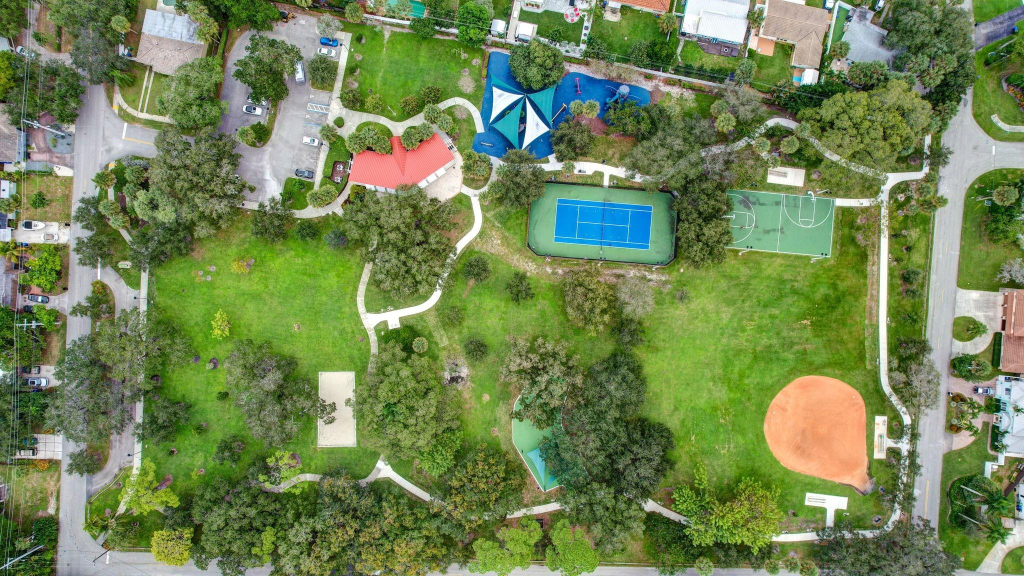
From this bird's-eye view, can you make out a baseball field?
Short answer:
Yes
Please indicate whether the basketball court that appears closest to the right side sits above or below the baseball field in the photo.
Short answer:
above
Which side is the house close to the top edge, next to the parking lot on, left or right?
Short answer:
left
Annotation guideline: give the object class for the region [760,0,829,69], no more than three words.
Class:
house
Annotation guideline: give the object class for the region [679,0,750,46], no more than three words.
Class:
house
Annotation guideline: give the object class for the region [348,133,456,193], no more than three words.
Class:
building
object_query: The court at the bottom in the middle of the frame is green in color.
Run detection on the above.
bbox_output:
[512,376,587,491]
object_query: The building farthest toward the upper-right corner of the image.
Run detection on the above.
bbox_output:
[840,7,903,71]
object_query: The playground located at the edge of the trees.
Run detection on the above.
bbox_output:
[473,51,650,159]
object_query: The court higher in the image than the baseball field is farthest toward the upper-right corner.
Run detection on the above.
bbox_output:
[723,189,835,258]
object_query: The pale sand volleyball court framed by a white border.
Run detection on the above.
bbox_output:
[317,371,356,447]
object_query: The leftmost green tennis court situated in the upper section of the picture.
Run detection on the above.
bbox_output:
[528,181,680,265]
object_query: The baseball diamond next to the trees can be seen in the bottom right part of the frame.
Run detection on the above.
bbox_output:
[764,376,875,494]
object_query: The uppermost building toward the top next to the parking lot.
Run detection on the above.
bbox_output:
[136,9,207,75]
